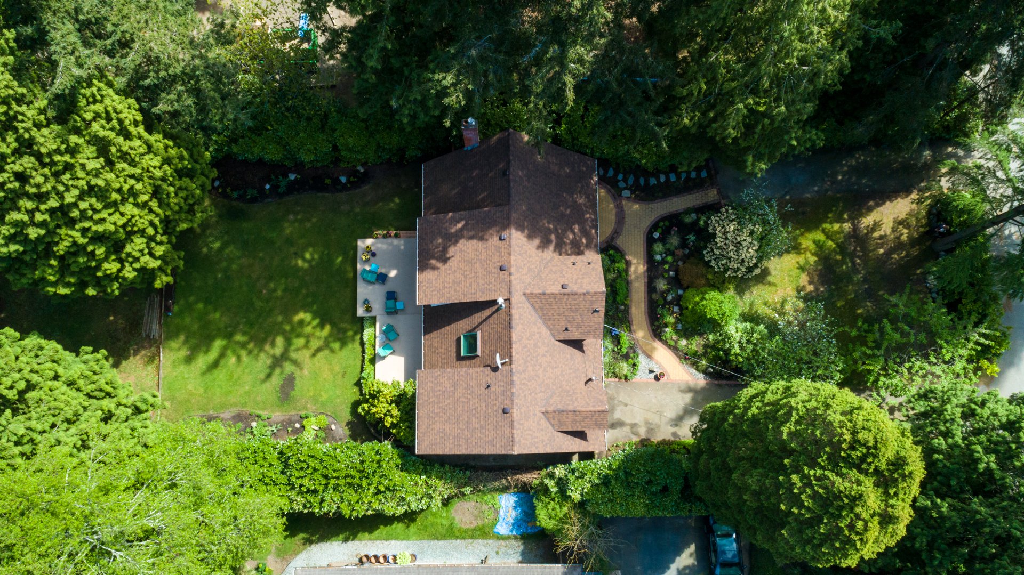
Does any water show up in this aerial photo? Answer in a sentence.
No, the scene doesn't show any water.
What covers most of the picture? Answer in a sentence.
What you mostly see from above here is trees.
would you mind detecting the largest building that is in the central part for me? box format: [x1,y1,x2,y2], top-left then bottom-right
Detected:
[413,113,608,454]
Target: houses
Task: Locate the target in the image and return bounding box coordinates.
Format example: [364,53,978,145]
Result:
[294,562,582,575]
[413,113,608,454]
